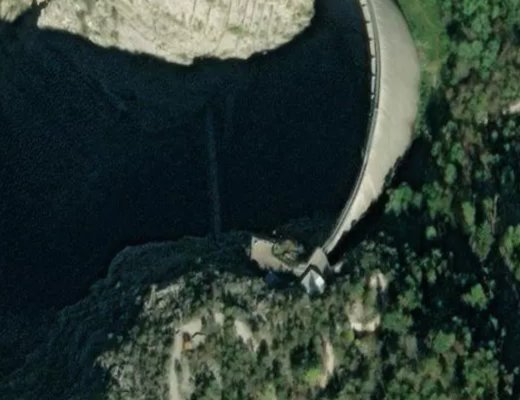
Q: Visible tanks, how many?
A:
none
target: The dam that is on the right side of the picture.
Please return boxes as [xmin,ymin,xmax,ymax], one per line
[321,0,419,255]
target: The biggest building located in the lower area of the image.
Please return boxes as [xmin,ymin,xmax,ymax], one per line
[301,270,325,294]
